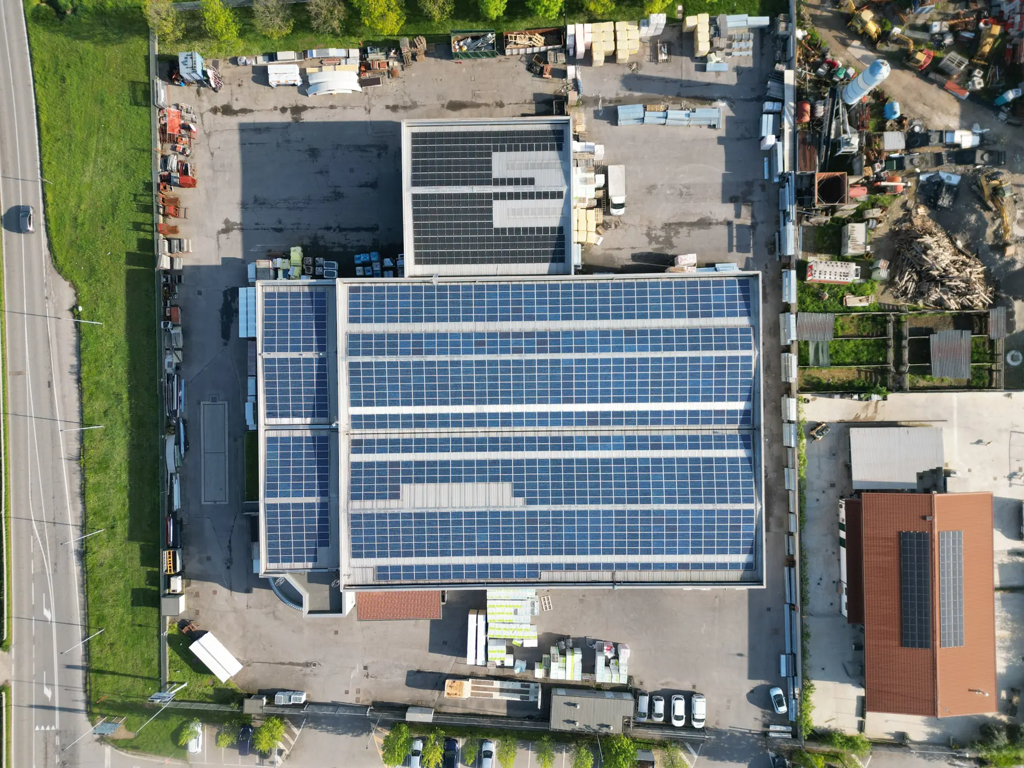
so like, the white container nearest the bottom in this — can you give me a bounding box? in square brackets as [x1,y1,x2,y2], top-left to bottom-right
[189,633,240,684]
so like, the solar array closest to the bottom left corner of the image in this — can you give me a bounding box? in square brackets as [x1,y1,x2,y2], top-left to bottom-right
[265,504,328,565]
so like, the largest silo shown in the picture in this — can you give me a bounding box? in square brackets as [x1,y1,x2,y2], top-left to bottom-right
[837,59,892,114]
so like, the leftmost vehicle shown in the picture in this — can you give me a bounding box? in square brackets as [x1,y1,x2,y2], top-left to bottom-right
[17,204,35,236]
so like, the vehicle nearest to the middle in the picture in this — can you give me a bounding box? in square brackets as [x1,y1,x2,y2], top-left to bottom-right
[607,161,626,217]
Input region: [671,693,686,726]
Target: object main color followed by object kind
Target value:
white car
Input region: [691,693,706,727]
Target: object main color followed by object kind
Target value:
white car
